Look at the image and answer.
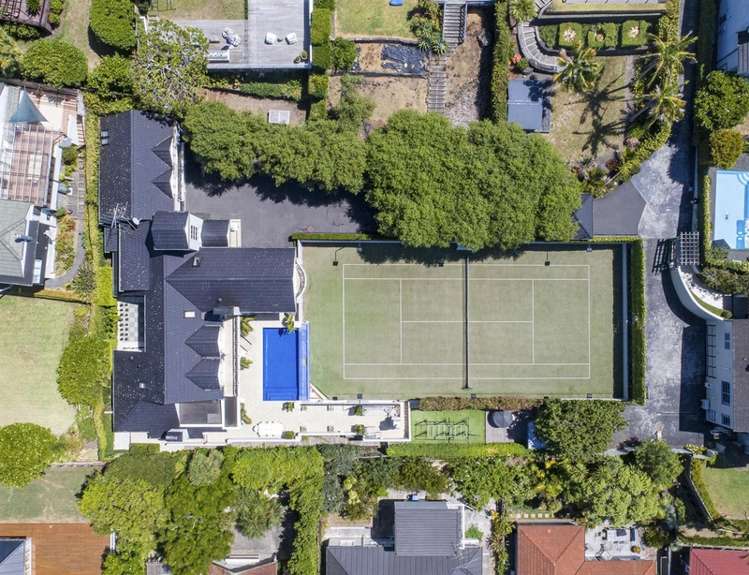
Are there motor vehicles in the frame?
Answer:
No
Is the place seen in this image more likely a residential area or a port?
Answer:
residential area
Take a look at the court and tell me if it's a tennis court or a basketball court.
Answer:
tennis court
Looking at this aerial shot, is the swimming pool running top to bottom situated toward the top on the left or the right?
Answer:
right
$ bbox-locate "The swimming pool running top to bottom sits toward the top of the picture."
[710,162,749,252]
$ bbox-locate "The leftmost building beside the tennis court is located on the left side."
[98,110,311,452]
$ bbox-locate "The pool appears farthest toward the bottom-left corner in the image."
[263,325,312,401]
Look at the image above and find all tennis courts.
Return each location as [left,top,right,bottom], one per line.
[304,243,622,402]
